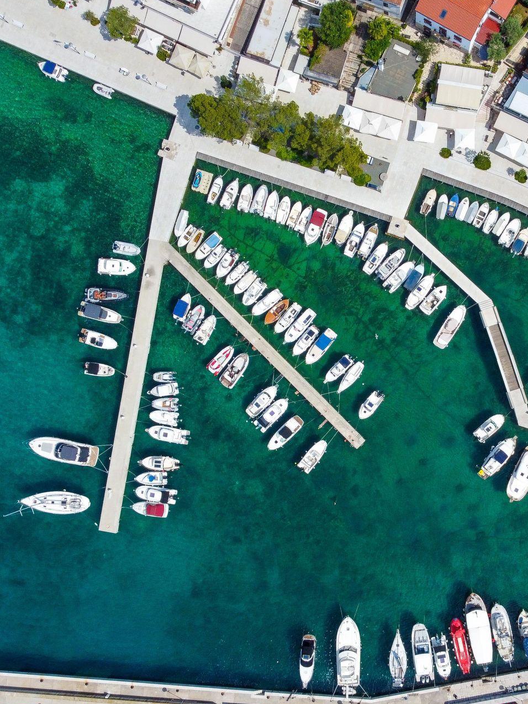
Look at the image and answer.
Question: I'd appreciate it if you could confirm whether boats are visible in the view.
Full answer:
Yes, there's a boat down there.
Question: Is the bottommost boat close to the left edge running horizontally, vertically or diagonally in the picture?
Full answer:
I'd say the bottommost boat close to the left edge is aligned horizontally in the picture.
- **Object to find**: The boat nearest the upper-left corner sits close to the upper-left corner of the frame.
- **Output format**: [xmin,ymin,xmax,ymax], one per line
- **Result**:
[38,59,71,84]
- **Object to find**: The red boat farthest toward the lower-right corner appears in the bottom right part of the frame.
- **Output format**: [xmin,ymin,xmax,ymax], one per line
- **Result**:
[451,619,474,676]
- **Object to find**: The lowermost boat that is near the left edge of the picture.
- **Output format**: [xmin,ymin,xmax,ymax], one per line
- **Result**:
[1,492,93,523]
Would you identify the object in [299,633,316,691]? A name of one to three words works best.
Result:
boat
